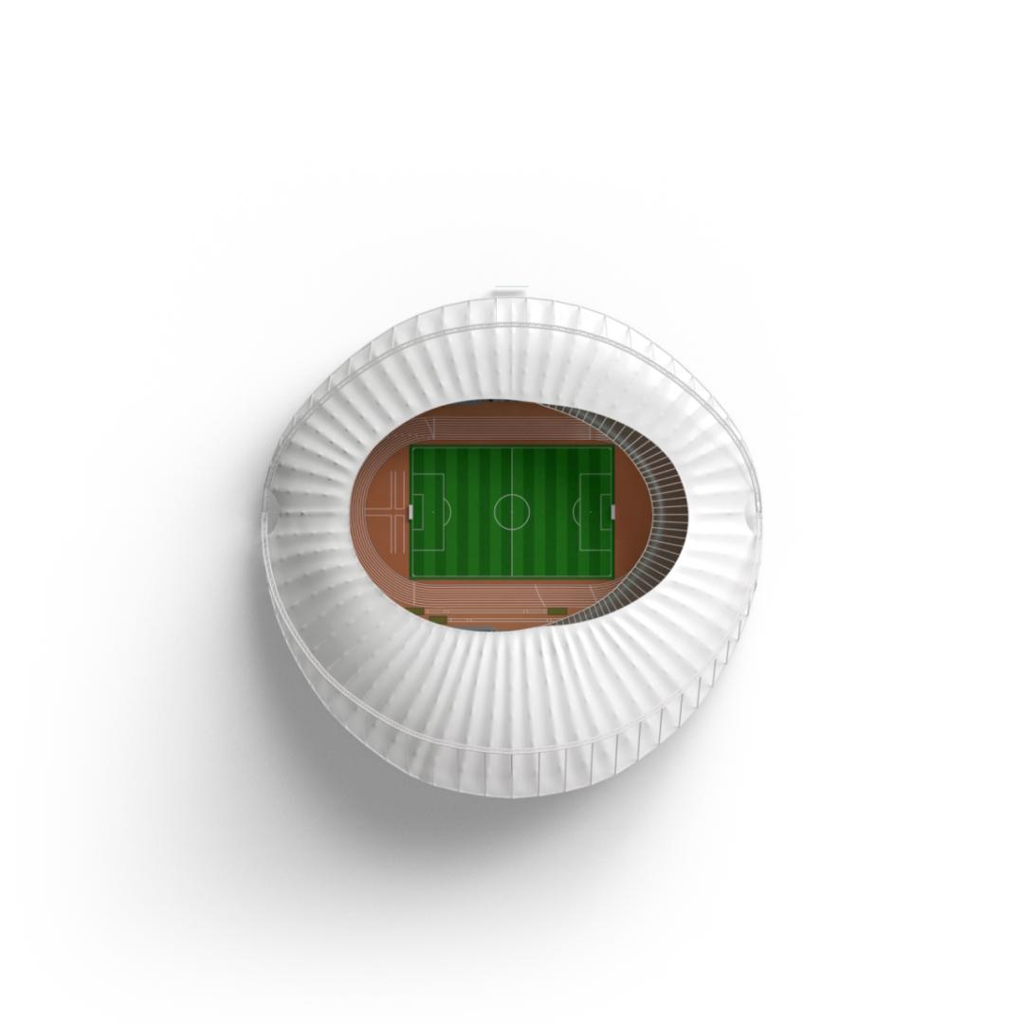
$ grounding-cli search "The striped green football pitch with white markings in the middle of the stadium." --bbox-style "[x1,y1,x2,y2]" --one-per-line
[409,445,615,580]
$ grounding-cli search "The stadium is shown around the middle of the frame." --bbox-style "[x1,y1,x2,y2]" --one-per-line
[261,296,763,799]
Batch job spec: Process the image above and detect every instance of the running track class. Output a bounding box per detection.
[351,400,652,631]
